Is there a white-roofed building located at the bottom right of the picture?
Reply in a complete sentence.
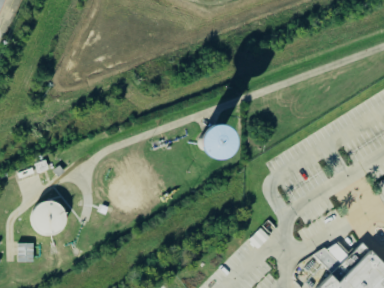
Yes, a white-roofed building is visible at the bottom right of the picture.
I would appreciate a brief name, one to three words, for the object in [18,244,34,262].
building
